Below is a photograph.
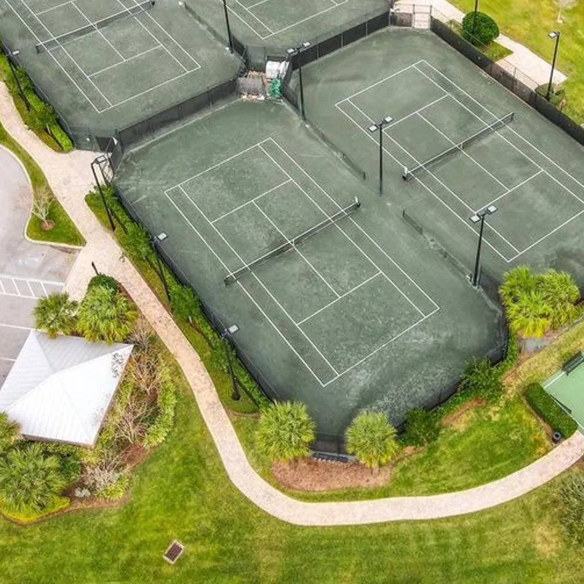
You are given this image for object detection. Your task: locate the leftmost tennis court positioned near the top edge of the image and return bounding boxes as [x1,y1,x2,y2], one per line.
[0,0,247,152]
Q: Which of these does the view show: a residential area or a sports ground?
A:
sports ground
